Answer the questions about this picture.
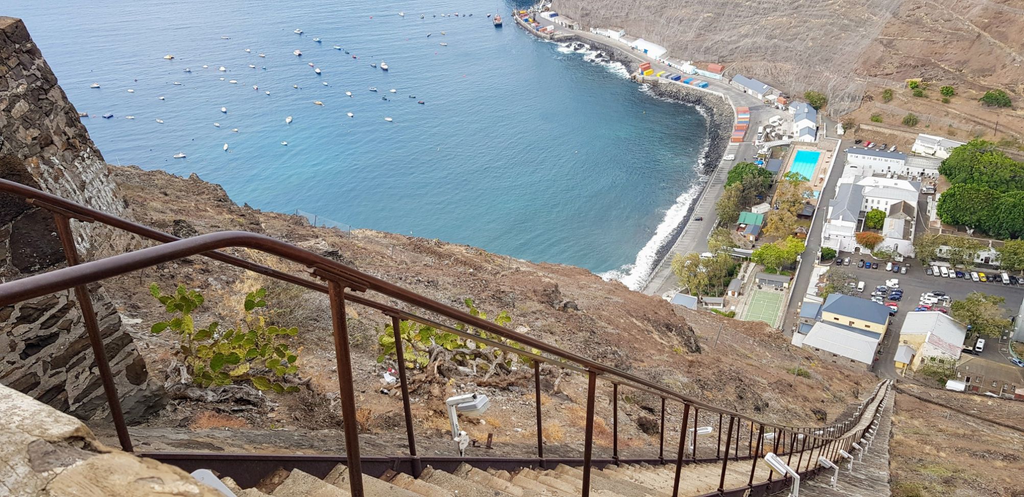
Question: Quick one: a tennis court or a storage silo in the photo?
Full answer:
Of the two, only a tennis court appears.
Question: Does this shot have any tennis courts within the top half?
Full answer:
No, the scene shows no tennis court within the top half.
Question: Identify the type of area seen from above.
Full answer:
The picture captures a port.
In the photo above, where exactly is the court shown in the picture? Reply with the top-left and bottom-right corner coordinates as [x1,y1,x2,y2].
[738,290,784,337]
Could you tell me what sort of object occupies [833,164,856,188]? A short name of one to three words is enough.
building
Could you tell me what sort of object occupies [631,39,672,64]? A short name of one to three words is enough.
shed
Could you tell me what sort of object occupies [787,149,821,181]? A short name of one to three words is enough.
swimming pool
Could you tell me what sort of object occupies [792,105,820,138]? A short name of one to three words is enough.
building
